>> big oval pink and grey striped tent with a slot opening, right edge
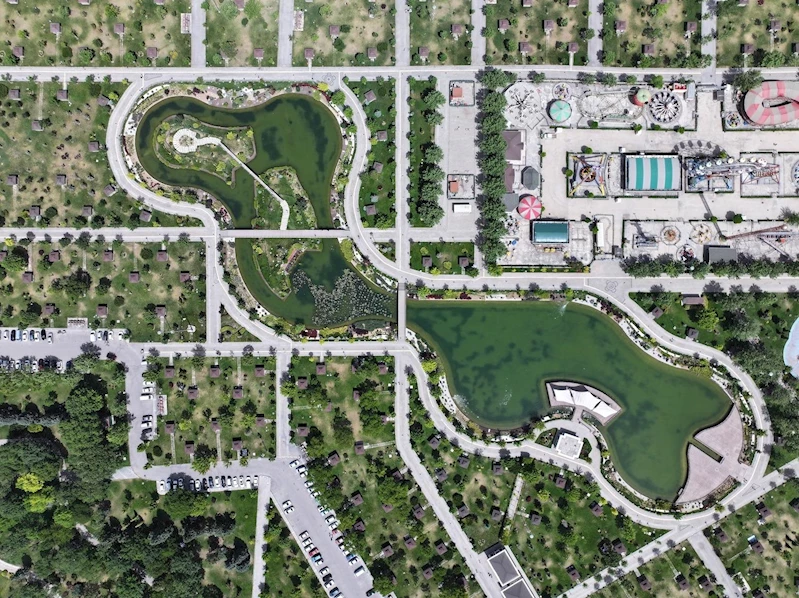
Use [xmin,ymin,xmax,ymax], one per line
[737,81,799,129]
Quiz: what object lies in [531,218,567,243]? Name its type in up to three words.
building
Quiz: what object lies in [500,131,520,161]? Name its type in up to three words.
building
